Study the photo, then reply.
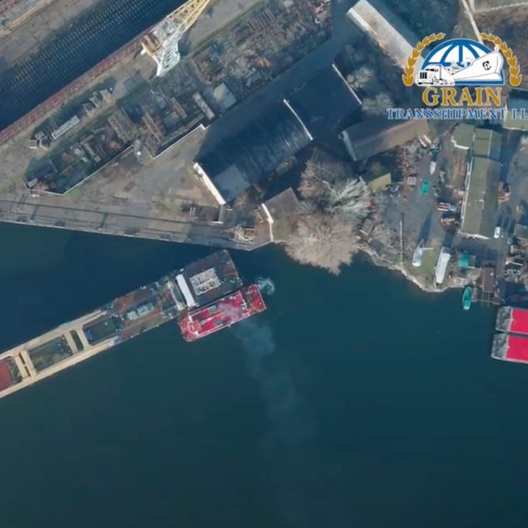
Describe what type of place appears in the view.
port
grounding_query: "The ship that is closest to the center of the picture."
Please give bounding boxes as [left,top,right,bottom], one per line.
[181,284,267,340]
